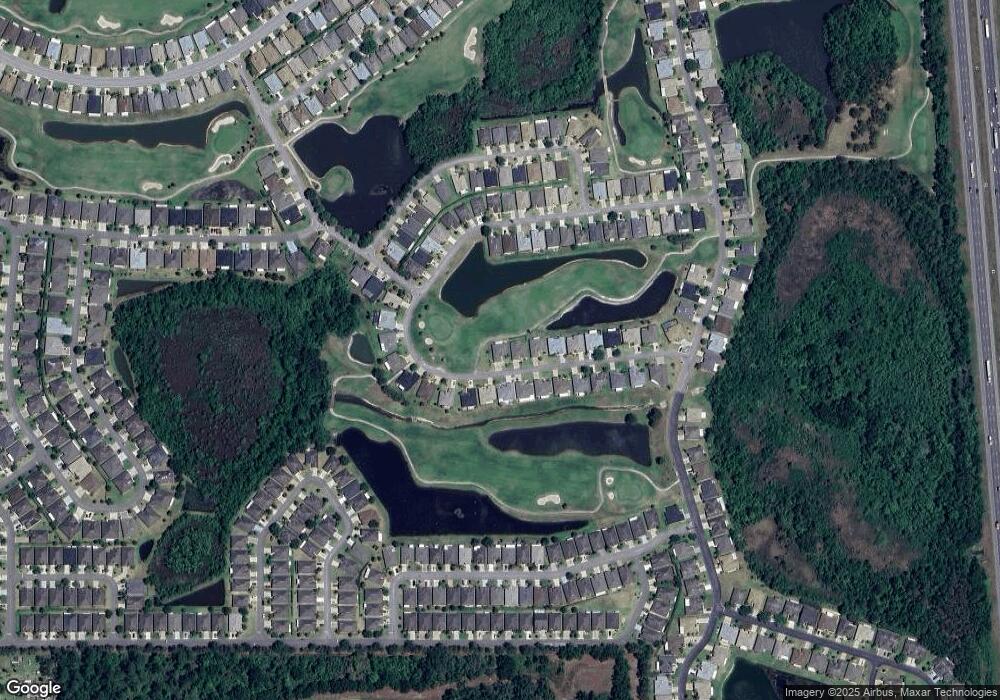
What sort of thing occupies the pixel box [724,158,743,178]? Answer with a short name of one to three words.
house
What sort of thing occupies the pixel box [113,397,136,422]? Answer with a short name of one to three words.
house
